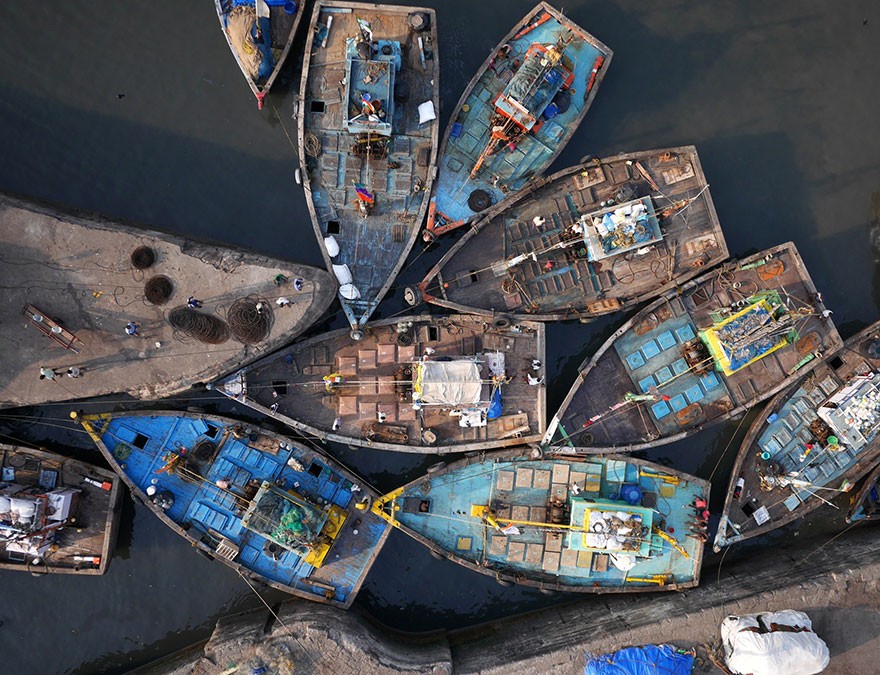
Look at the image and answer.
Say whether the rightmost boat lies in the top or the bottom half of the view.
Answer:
bottom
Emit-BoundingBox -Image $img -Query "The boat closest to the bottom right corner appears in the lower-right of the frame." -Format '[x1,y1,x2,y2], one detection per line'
[840,461,880,522]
